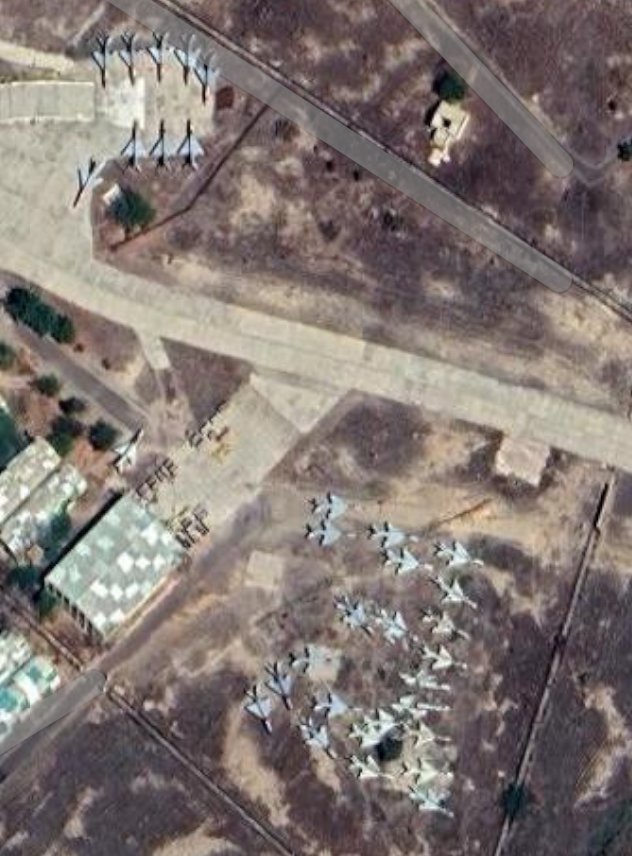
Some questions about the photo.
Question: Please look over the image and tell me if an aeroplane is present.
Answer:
Yes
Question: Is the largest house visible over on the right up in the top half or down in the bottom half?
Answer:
top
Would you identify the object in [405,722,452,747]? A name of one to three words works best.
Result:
airplane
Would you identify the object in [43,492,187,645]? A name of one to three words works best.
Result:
hangar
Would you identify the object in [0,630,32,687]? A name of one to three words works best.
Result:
building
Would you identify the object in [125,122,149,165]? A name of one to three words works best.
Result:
airplane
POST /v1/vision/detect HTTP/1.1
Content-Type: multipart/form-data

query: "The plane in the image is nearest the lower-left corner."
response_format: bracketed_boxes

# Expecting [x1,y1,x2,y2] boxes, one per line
[247,689,273,735]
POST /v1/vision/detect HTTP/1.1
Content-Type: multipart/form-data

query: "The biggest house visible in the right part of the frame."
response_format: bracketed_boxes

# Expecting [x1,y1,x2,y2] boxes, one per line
[431,100,467,150]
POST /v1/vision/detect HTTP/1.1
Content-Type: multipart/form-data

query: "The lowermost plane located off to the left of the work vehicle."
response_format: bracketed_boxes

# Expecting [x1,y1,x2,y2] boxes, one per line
[110,429,143,470]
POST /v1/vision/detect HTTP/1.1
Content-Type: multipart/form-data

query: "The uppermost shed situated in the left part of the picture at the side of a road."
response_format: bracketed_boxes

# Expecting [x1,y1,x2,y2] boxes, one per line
[216,87,234,110]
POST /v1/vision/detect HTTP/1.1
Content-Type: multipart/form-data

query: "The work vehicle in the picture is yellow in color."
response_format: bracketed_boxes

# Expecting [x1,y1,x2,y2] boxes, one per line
[207,443,228,461]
